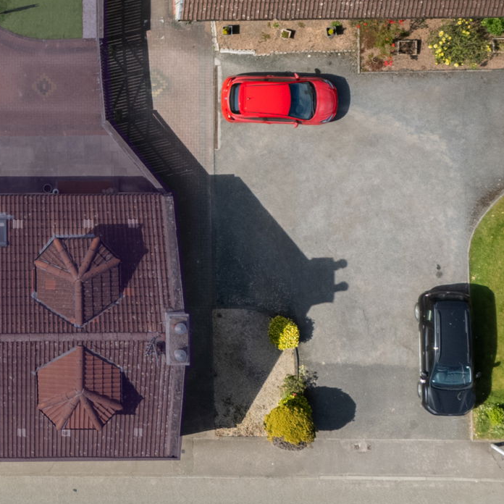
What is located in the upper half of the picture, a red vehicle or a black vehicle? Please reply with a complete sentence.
The feature located in the upper half of the picture is a red vehicle.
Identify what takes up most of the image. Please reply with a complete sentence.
The largest share of the image is taken up by paved ground.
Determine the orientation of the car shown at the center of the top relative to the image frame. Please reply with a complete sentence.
In this picture, the car shown at the center of the top lies horizontally.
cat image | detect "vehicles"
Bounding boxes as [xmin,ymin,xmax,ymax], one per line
[224,68,342,128]
[419,290,486,419]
